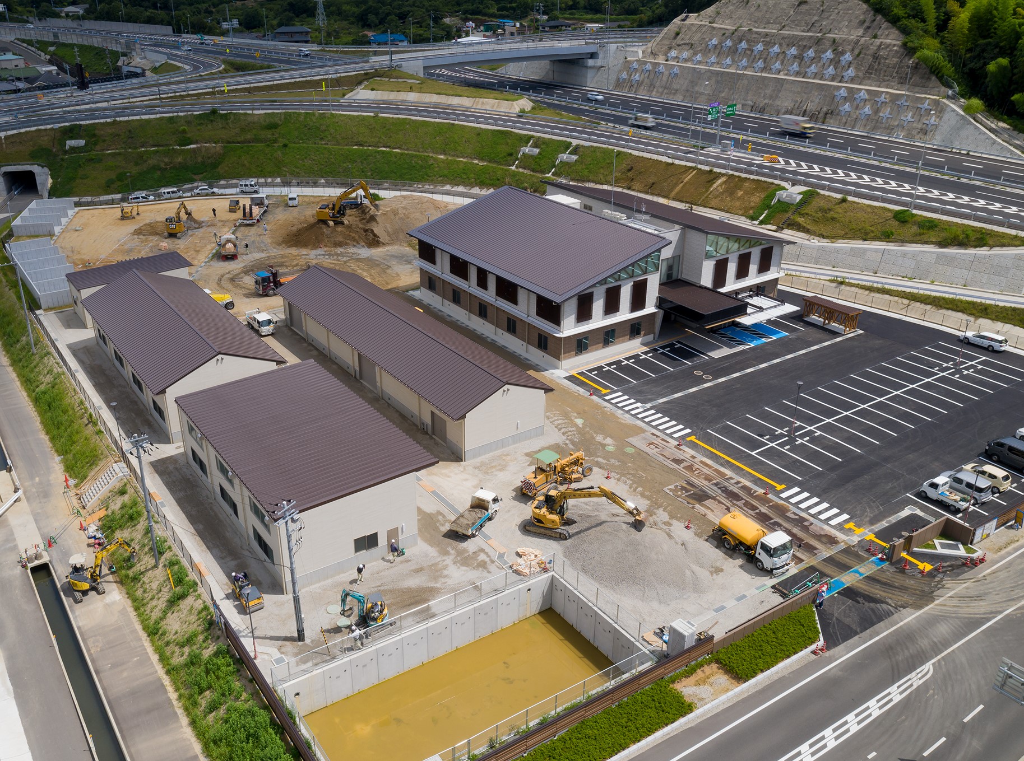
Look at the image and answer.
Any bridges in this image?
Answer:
Yes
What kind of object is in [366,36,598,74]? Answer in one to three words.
bridge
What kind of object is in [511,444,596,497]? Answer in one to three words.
work vehicle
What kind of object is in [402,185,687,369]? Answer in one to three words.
building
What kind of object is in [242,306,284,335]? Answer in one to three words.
truck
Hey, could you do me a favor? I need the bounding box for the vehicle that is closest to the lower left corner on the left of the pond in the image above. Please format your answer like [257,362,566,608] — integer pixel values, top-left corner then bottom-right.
[58,537,141,602]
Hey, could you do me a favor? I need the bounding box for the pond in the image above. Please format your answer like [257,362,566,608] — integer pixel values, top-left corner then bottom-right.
[277,565,669,761]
